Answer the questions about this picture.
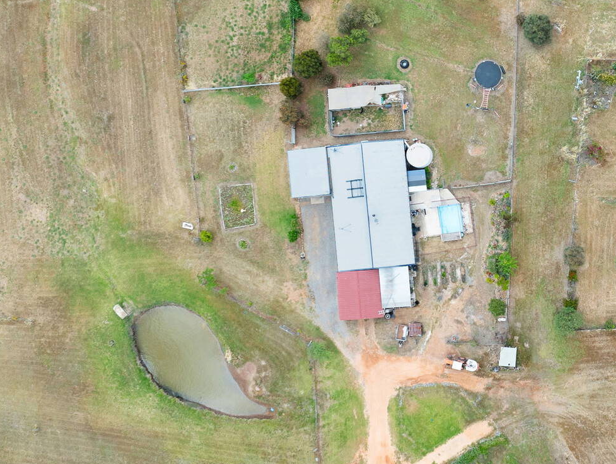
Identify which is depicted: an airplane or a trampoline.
trampoline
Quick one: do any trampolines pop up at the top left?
No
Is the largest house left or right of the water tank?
to its left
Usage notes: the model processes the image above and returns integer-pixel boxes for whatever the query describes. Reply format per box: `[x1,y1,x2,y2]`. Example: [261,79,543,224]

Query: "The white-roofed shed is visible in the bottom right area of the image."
[499,346,517,367]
